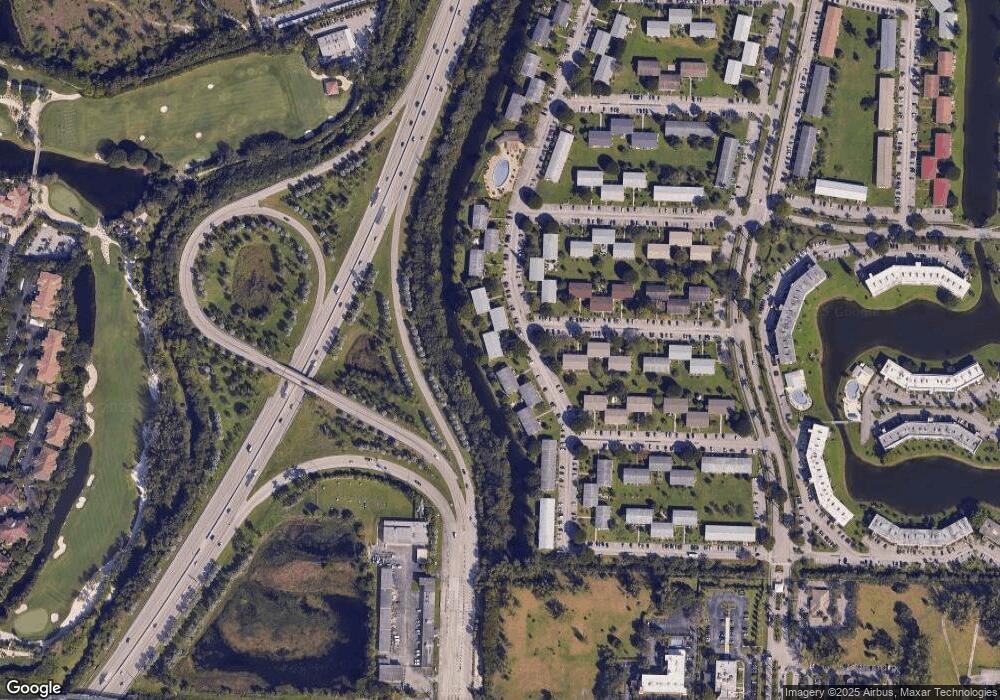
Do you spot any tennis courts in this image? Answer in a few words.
No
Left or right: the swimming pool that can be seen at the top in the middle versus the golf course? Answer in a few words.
on the right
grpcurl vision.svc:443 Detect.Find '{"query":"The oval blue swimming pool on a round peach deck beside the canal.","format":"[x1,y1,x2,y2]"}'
[484,142,525,198]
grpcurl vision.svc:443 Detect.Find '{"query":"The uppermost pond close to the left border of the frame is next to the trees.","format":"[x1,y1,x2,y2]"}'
[0,145,147,222]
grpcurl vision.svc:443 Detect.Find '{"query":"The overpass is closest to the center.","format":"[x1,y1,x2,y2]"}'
[262,356,323,394]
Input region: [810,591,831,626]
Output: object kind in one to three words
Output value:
house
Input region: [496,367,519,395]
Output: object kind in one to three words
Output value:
building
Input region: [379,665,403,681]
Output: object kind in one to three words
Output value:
shed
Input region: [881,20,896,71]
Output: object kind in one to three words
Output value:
building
